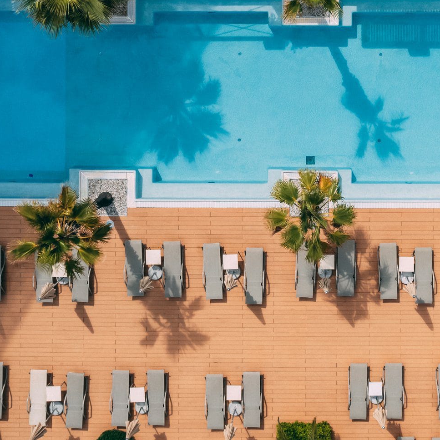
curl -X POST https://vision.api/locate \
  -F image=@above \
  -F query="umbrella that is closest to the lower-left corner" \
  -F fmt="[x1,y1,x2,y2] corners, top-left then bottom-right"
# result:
[32,401,63,440]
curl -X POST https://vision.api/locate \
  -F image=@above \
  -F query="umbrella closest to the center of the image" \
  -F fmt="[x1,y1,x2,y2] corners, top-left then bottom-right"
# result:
[222,267,241,293]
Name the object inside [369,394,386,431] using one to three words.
umbrella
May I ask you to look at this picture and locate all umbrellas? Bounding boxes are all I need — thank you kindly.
[224,401,241,440]
[222,267,241,293]
[369,394,386,431]
[318,269,334,293]
[40,273,71,301]
[32,401,63,440]
[126,401,147,440]
[140,266,162,293]
[400,272,419,300]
